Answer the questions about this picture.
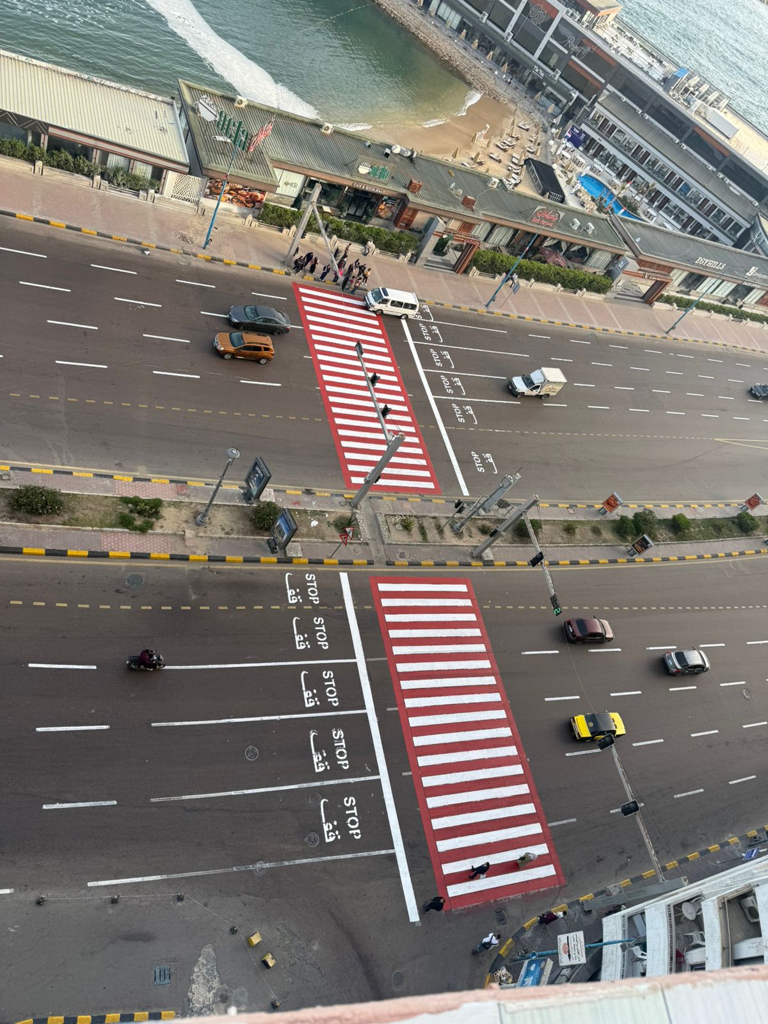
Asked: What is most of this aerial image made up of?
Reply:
paved ground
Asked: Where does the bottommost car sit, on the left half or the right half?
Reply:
right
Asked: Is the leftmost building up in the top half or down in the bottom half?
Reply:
top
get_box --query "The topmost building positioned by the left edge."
[0,49,191,199]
